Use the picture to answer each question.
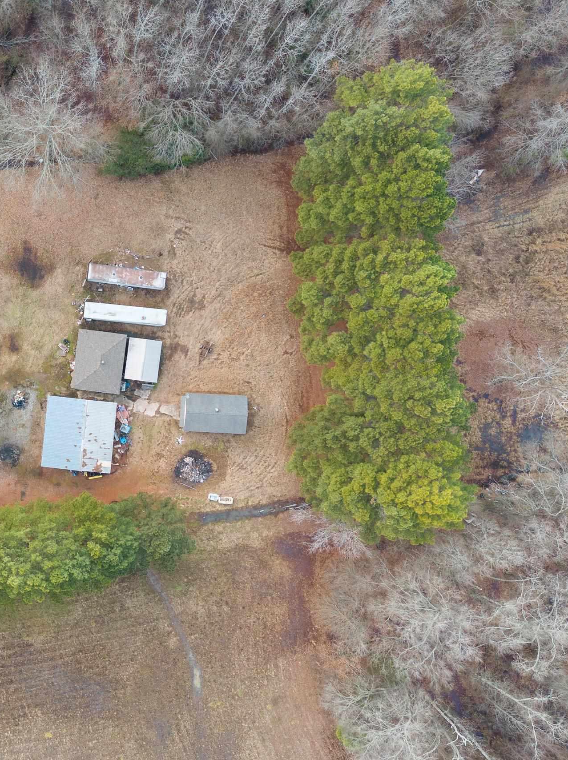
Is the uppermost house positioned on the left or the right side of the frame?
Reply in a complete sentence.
The uppermost house sits on the left side.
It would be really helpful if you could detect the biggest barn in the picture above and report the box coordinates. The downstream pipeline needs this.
[41,395,117,473]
